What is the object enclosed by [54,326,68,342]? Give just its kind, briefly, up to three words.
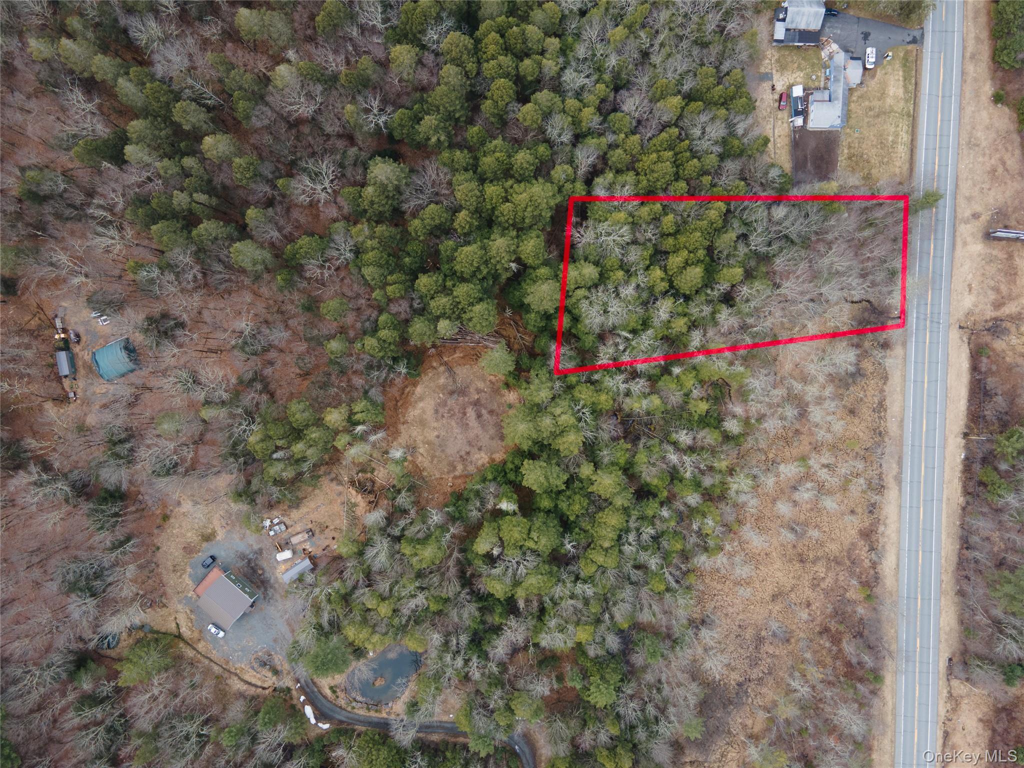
work vehicle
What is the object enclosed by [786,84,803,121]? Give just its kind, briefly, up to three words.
shed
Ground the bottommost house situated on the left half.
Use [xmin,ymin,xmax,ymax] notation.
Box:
[198,570,259,630]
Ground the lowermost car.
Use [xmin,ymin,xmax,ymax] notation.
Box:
[207,622,226,638]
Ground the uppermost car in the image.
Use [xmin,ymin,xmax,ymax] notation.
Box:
[824,7,840,19]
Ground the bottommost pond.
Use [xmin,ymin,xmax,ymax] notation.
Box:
[347,645,421,703]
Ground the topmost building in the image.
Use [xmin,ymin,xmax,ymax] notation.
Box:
[772,0,826,46]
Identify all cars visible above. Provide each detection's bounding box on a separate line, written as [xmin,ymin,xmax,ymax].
[207,622,226,638]
[777,93,786,111]
[200,553,219,569]
[824,7,840,19]
[864,47,875,69]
